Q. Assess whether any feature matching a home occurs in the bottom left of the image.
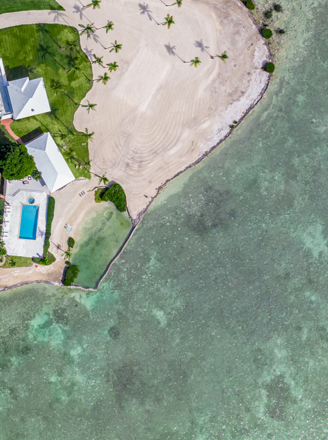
No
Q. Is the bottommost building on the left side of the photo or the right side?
left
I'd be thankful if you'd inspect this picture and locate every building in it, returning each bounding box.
[27,132,75,192]
[6,77,50,120]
